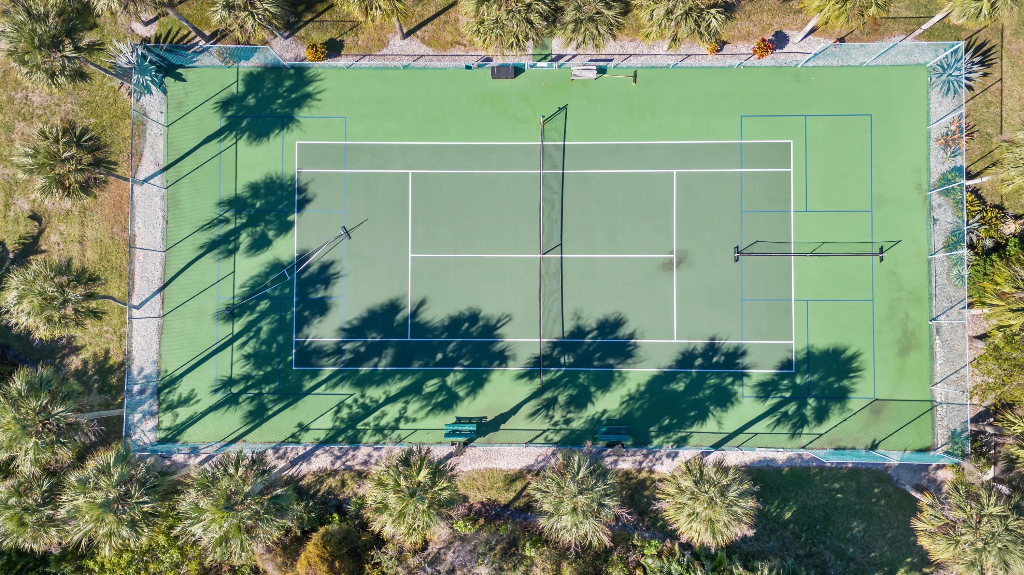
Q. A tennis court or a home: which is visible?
tennis court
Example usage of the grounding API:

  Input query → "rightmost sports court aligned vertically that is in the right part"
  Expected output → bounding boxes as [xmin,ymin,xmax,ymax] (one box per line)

[742,115,874,400]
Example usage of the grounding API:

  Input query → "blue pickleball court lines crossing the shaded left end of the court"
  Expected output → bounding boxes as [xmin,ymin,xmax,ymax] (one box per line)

[216,117,346,395]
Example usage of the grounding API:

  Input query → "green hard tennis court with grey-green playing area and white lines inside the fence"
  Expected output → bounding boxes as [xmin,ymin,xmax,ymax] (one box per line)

[157,61,938,453]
